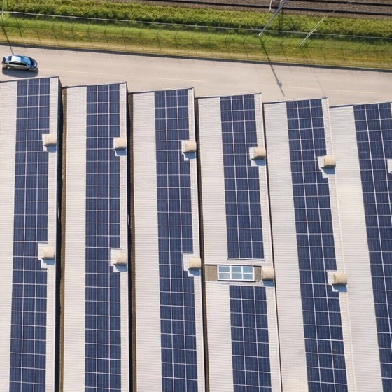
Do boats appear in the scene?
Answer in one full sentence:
No, no boat is visible in the view.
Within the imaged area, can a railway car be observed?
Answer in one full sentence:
No, I can't see a single railway car in this photo.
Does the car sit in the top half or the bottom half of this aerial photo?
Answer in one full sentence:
The car sits in the top half of the picture.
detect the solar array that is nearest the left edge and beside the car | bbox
[8,80,50,392]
